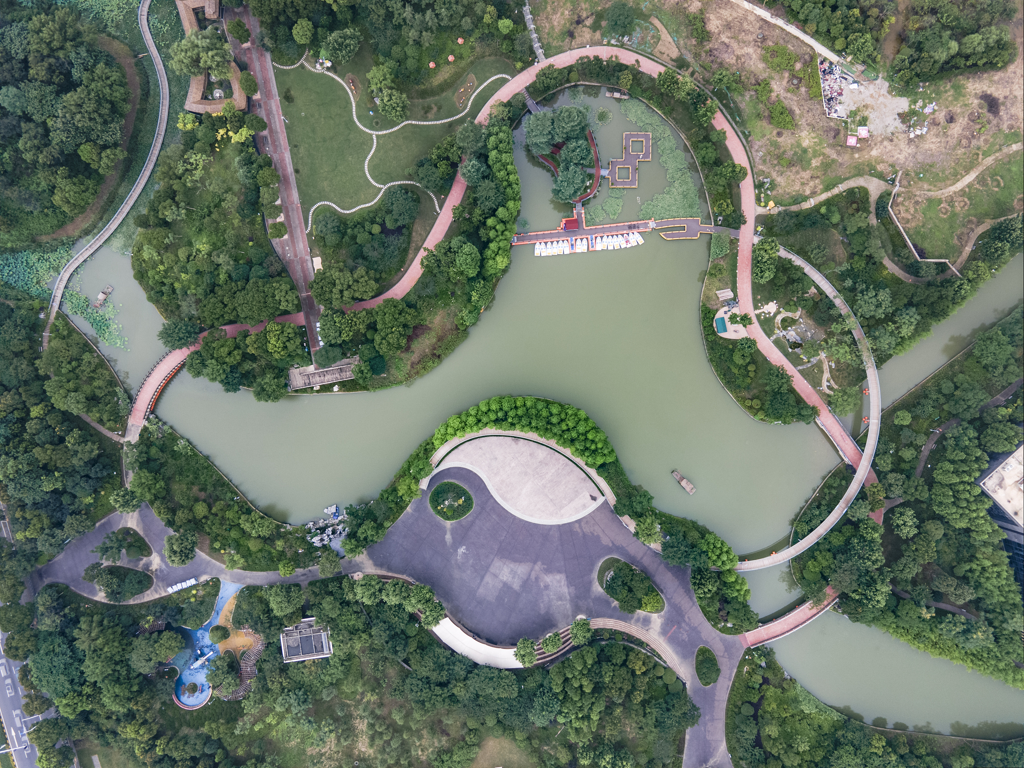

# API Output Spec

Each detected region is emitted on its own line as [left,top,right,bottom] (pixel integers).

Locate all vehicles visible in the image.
[20,734,33,754]
[0,656,11,676]
[167,585,174,593]
[177,581,183,590]
[172,583,178,591]
[13,708,26,728]
[4,677,17,697]
[181,580,187,588]
[186,578,192,586]
[191,576,199,585]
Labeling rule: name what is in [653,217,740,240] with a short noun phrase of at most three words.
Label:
pier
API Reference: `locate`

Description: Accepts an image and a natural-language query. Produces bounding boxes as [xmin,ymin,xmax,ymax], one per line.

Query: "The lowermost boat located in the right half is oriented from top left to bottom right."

[673,468,694,494]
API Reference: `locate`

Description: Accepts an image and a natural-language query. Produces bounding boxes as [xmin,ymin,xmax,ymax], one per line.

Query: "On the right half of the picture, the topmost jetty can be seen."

[604,132,652,188]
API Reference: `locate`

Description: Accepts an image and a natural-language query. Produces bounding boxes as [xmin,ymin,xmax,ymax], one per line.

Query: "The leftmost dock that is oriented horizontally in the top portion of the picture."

[513,208,652,253]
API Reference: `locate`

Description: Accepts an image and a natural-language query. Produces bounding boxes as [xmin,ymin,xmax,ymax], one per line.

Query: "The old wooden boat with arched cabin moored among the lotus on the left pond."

[94,286,112,307]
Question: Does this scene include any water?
Yes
